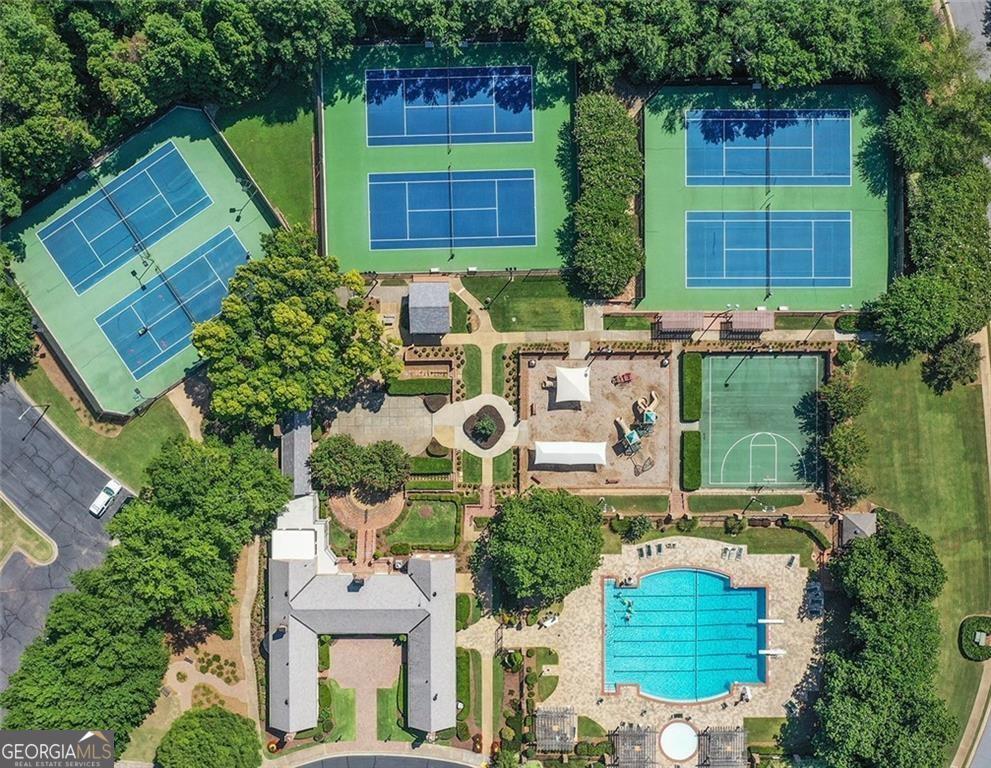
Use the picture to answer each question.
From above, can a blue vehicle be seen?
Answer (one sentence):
No, no blue vehicle is visible in the view.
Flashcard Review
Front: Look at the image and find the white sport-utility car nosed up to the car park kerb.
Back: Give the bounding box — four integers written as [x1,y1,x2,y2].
[85,482,118,518]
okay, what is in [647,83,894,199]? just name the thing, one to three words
tennis court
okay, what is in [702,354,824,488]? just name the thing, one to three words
basketball court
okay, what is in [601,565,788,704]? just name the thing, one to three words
swimming pool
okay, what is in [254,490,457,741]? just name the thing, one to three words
house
